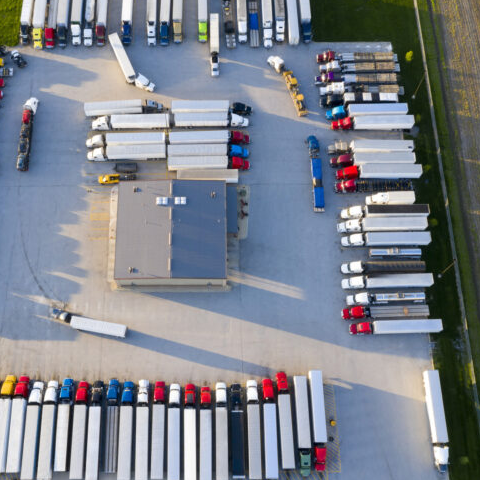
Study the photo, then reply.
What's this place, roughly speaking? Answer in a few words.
parking lot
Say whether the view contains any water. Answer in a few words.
No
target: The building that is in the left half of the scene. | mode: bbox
[114,177,238,282]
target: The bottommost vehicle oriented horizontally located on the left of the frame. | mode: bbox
[51,308,127,339]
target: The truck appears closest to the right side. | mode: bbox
[423,370,449,471]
